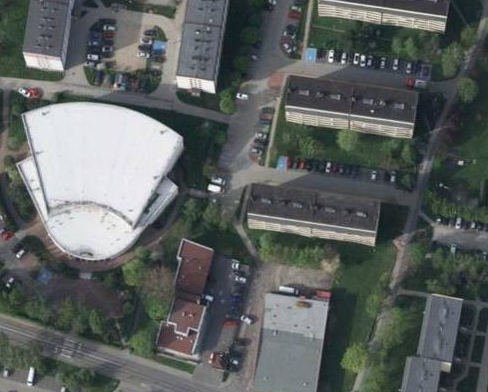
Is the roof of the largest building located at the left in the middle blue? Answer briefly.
No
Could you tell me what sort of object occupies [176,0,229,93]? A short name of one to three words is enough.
building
